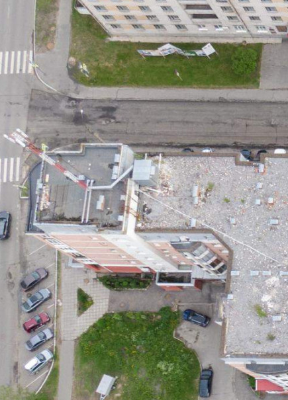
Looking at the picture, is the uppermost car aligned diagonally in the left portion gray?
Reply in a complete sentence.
Yes, gray is the color of the uppermost car aligned diagonally in the left portion.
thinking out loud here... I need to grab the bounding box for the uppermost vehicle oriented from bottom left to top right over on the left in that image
[19,267,51,292]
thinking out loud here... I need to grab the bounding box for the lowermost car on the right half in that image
[198,370,215,398]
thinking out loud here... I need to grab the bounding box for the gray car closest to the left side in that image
[0,211,12,241]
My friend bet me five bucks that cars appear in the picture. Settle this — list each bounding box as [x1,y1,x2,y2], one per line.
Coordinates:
[201,147,213,154]
[180,308,211,329]
[22,347,57,376]
[198,370,215,398]
[21,310,53,334]
[23,327,57,352]
[19,267,51,292]
[255,151,268,163]
[20,287,54,313]
[0,211,12,241]
[239,150,254,163]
